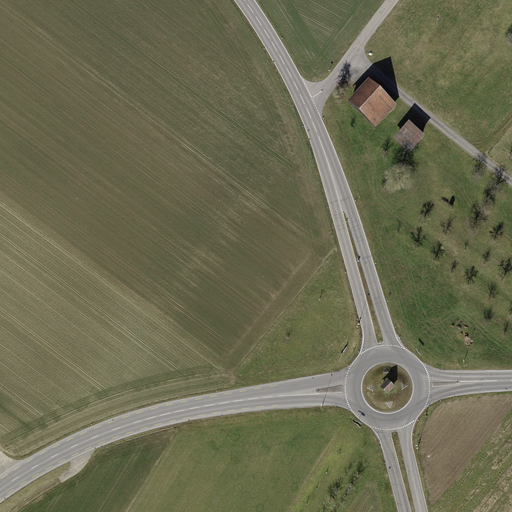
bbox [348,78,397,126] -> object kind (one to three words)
barn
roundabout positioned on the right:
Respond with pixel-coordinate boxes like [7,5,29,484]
[345,345,430,430]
